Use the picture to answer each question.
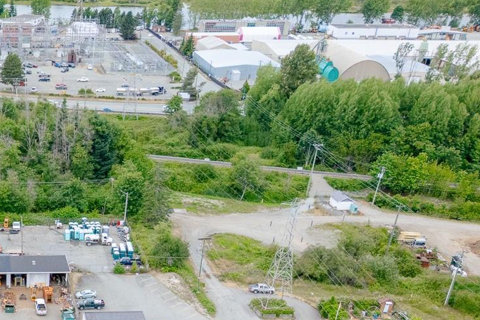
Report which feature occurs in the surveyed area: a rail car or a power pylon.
power pylon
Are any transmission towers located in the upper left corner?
Yes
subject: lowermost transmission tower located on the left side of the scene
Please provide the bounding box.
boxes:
[114,43,148,118]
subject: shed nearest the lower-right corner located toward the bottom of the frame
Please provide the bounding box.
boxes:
[376,292,400,312]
